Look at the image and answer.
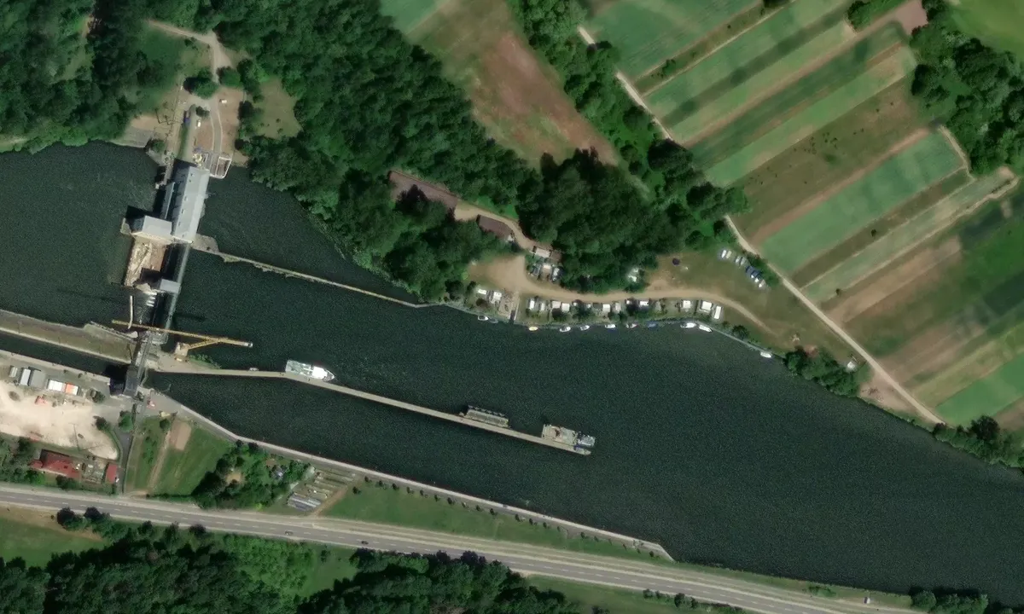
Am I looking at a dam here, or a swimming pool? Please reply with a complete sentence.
It is a dam that can be seen here.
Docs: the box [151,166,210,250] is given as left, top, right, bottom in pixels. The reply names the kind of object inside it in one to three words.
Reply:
building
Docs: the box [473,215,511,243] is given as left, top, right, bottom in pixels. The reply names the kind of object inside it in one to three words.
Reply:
barn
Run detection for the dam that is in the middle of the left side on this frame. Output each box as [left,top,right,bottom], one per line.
[123,236,189,344]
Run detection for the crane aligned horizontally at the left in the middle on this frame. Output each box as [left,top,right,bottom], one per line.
[112,319,253,362]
